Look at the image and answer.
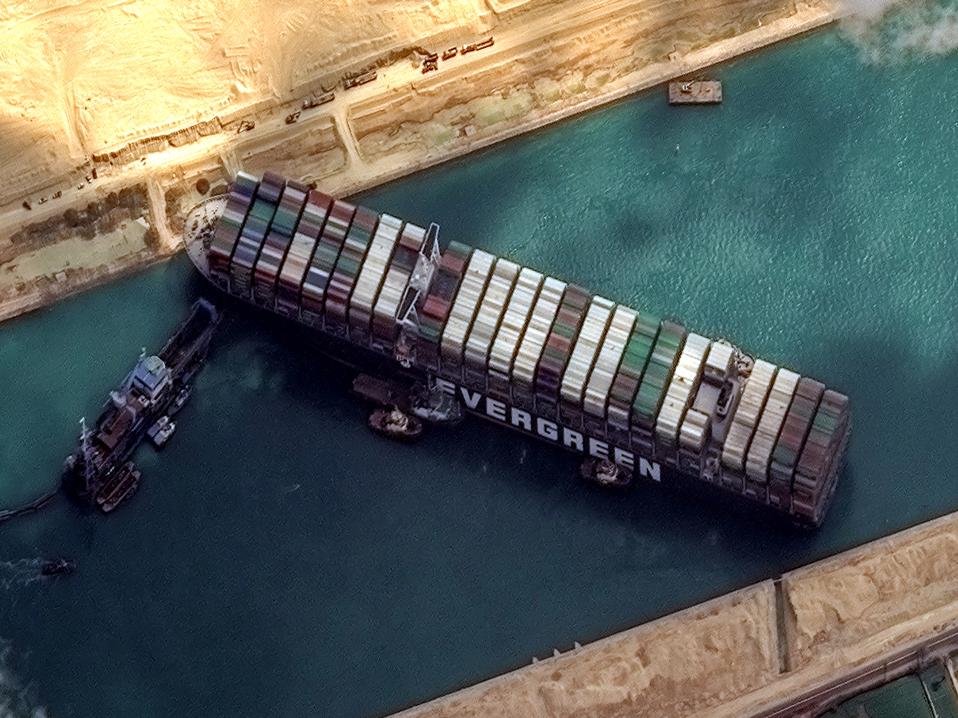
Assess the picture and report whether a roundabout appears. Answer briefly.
No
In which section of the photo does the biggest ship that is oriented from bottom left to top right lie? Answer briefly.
left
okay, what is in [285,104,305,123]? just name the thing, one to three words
work vehicle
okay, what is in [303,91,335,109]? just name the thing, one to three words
vehicle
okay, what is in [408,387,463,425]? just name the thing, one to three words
vessel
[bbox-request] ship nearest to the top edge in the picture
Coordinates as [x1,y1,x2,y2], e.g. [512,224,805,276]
[669,78,722,106]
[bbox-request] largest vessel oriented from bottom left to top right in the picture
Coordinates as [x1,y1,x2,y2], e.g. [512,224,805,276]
[65,296,217,505]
